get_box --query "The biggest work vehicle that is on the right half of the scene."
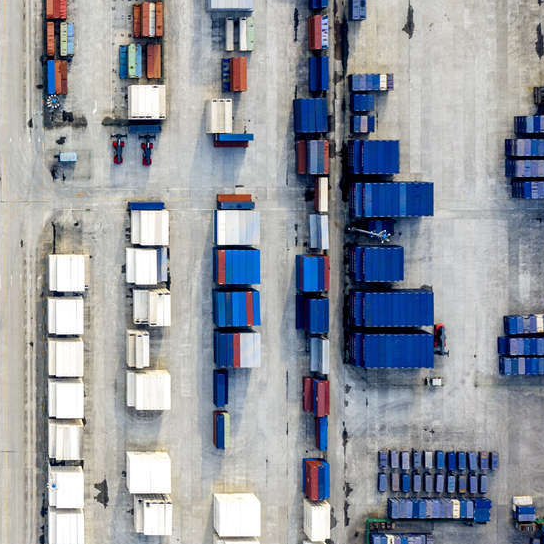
[434,322,452,356]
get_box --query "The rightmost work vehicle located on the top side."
[139,133,156,166]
